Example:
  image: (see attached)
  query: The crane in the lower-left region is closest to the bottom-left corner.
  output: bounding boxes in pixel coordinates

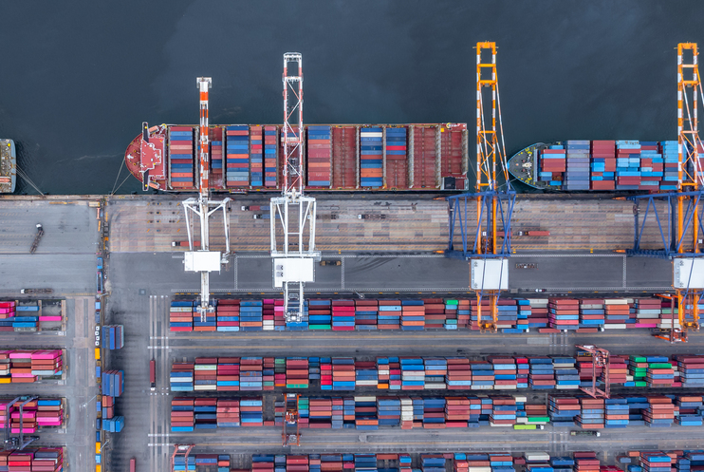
[4,396,39,451]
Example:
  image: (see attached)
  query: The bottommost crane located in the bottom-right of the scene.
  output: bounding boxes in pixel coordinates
[575,345,611,397]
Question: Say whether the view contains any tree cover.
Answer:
No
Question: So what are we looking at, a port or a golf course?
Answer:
port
